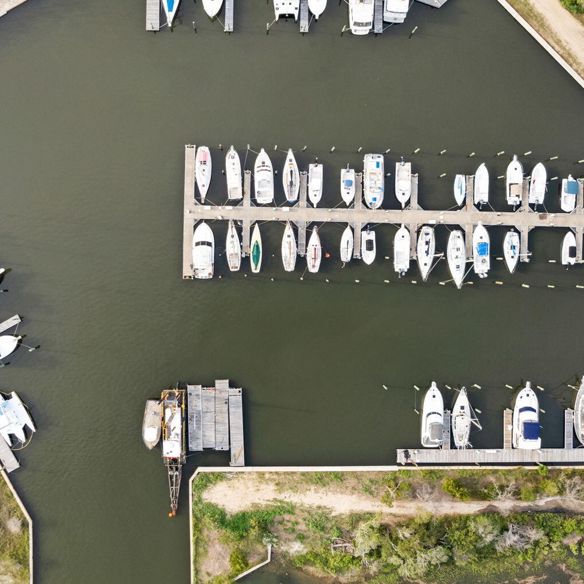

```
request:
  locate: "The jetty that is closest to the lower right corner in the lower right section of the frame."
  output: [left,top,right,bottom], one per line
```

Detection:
[397,410,584,462]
